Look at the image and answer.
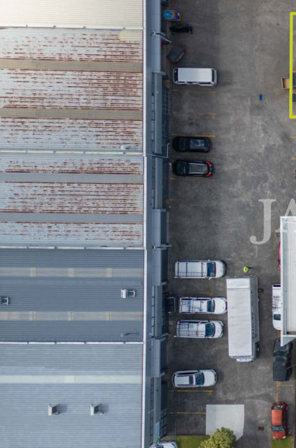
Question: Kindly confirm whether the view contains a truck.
Yes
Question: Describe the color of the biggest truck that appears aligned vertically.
white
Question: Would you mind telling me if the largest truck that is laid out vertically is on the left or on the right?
right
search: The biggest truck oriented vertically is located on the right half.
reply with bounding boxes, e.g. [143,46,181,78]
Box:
[224,278,260,367]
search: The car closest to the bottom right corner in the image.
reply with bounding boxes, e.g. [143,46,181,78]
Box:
[269,401,289,438]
